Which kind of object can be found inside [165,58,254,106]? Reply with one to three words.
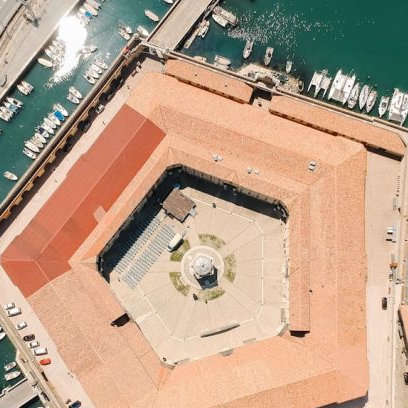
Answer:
building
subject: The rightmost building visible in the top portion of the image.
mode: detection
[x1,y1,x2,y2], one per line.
[270,94,406,159]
